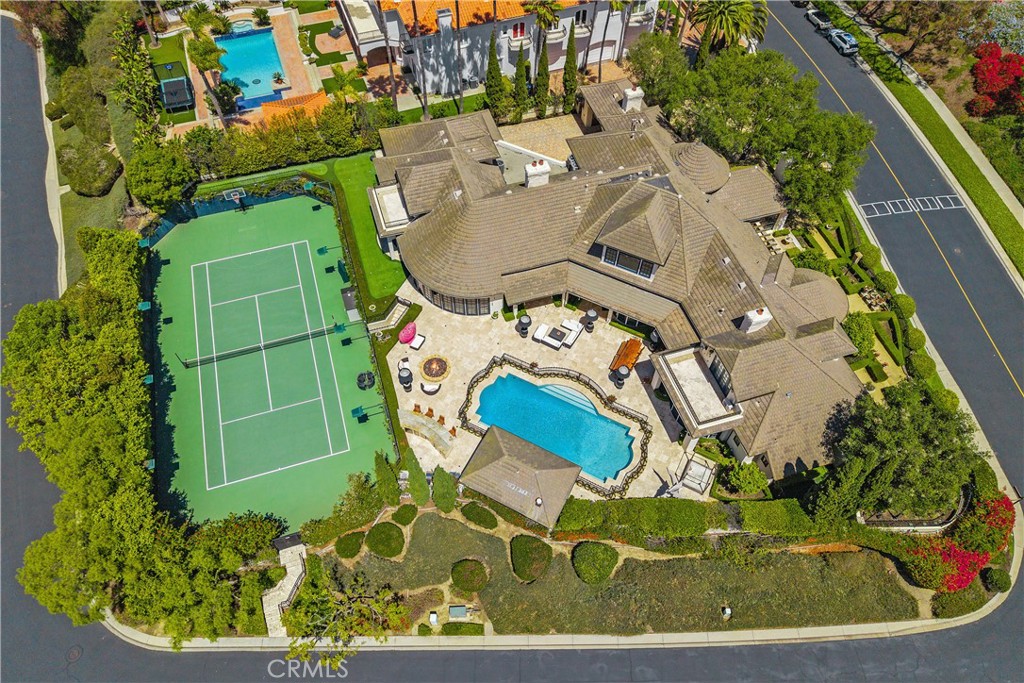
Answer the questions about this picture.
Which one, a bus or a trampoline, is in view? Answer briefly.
trampoline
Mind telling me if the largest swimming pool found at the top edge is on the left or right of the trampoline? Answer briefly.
on its right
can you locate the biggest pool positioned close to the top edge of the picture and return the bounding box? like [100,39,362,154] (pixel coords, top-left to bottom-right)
[213,27,291,104]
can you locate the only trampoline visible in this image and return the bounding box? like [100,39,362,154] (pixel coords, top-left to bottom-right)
[155,65,196,113]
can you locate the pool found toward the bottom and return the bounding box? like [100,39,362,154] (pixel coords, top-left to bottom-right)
[468,366,642,489]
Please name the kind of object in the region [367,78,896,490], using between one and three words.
house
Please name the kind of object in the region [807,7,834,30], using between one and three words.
car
